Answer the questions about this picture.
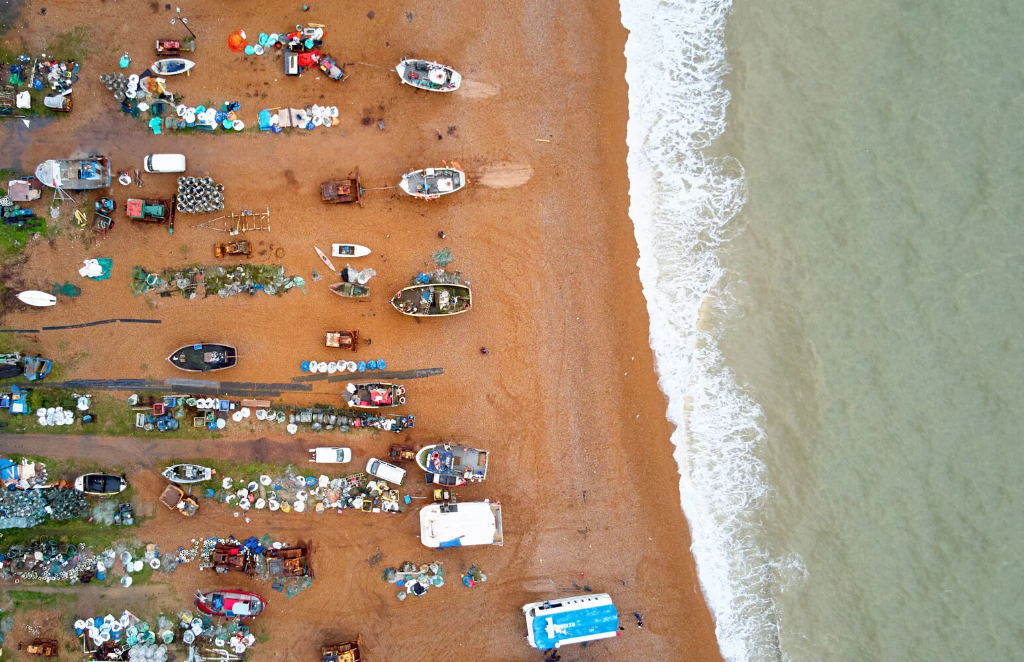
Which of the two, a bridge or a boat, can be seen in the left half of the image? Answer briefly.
boat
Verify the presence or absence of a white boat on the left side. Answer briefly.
Yes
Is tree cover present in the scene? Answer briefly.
No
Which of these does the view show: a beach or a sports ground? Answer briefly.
beach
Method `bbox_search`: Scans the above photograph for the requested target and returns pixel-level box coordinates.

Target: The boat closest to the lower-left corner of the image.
[74,474,129,495]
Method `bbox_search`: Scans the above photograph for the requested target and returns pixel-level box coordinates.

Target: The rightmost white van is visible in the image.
[367,456,409,486]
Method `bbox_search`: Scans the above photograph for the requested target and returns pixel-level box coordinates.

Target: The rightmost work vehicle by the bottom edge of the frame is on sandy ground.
[321,631,364,662]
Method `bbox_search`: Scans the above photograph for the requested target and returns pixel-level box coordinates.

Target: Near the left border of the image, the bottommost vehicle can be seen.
[22,637,60,656]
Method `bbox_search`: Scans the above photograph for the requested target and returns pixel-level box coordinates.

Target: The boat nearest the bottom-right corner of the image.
[522,591,622,650]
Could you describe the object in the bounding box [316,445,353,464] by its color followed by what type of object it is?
white vehicle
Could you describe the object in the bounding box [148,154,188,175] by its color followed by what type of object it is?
white vehicle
